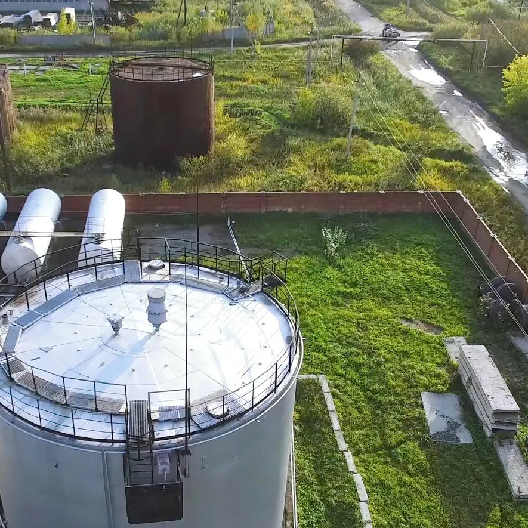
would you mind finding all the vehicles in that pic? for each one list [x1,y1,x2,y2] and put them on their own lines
[382,26,401,43]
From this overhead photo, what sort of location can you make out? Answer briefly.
industrial area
